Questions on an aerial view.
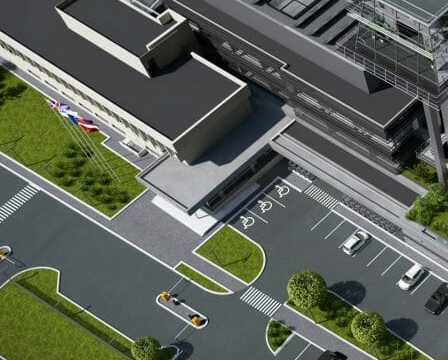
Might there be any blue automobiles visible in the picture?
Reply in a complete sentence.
No, the scene contains no blue automobile.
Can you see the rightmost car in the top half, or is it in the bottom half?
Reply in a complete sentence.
The bottom half of the photo is where the rightmost car is.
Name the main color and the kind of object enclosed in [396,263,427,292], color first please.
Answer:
white car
